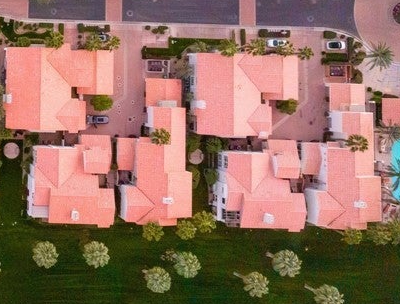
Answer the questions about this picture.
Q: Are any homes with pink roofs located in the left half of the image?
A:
Yes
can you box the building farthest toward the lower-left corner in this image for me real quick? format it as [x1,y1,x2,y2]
[26,138,112,226]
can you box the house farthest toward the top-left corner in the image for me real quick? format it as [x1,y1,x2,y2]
[5,44,111,129]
